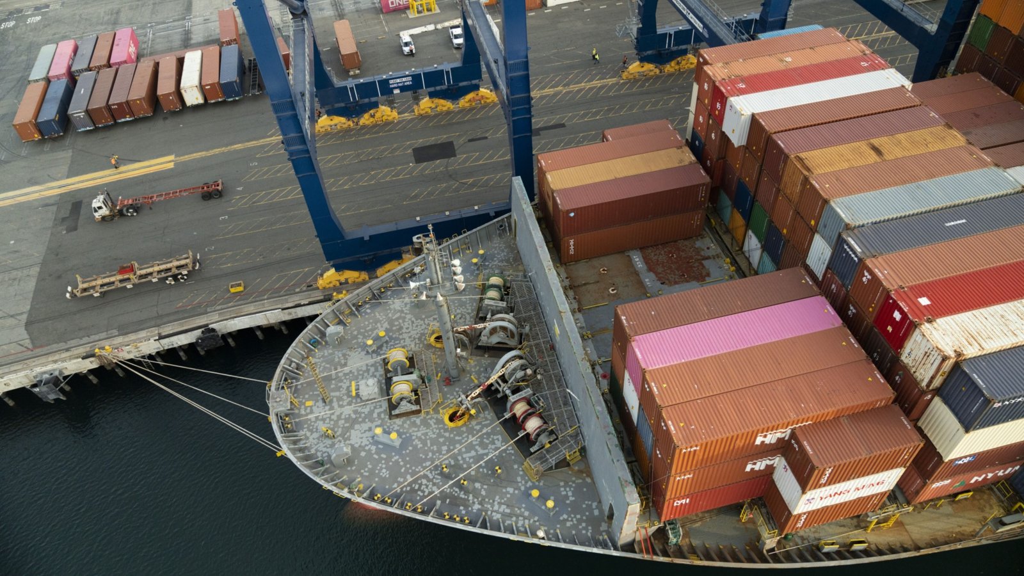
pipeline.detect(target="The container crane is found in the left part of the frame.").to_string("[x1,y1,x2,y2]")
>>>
[235,0,535,284]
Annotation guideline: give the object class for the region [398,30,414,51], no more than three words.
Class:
car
